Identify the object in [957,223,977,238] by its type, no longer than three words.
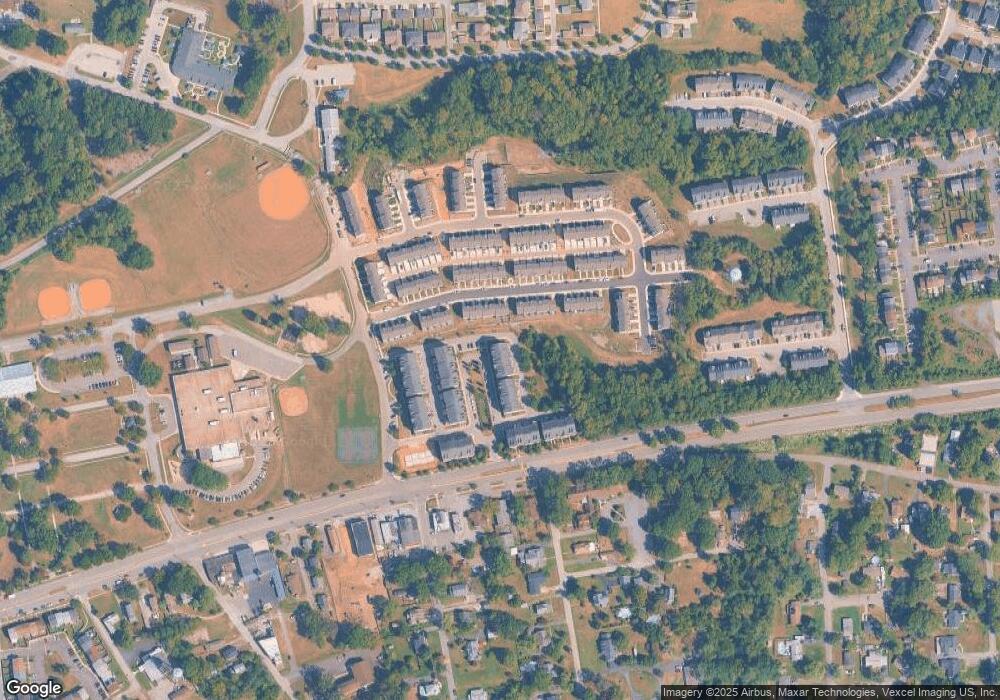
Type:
house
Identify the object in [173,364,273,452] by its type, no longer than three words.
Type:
building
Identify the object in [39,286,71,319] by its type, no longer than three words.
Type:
baseball field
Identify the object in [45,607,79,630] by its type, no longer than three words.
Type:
house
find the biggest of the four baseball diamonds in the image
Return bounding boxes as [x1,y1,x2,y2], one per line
[259,164,310,221]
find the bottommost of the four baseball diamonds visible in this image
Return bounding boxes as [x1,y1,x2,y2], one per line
[279,387,309,416]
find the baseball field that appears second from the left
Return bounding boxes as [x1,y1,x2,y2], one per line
[79,278,111,312]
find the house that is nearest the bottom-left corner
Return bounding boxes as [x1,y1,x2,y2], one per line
[10,658,27,681]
